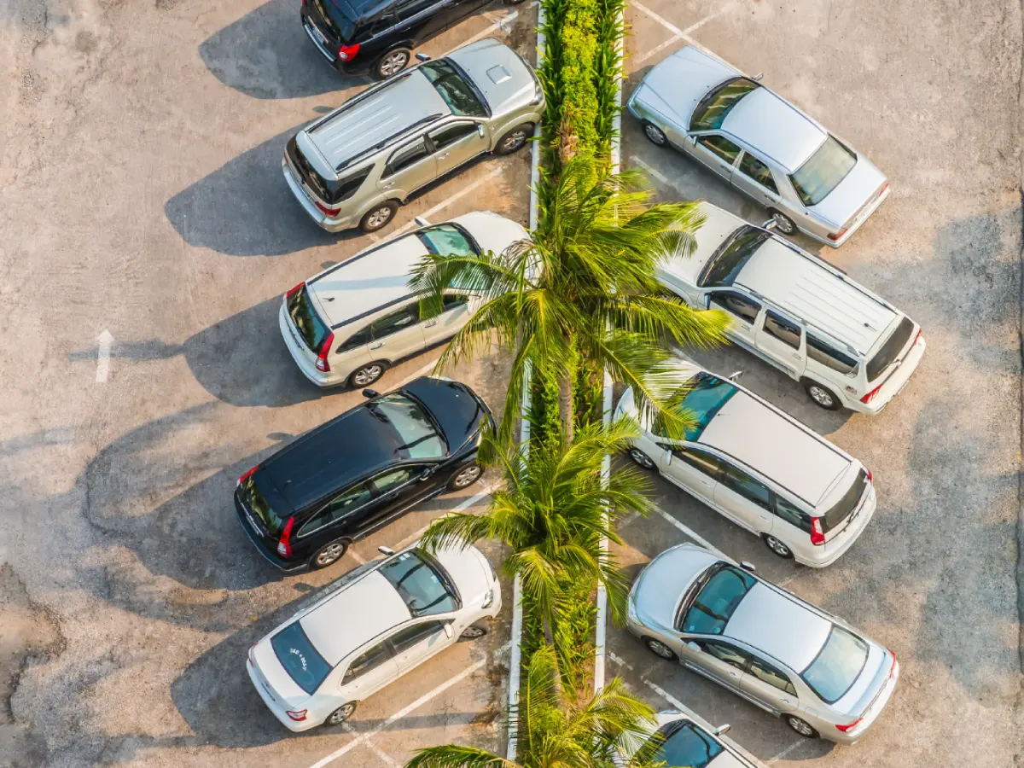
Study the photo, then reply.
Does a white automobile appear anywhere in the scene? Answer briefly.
Yes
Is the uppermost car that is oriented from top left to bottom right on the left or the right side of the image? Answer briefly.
right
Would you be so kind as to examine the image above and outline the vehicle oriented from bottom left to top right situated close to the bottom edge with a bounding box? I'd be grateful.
[247,537,497,734]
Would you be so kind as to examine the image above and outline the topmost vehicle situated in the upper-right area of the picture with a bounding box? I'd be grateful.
[624,40,890,253]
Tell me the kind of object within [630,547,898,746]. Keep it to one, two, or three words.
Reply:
car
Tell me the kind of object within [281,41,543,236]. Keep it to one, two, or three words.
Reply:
car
